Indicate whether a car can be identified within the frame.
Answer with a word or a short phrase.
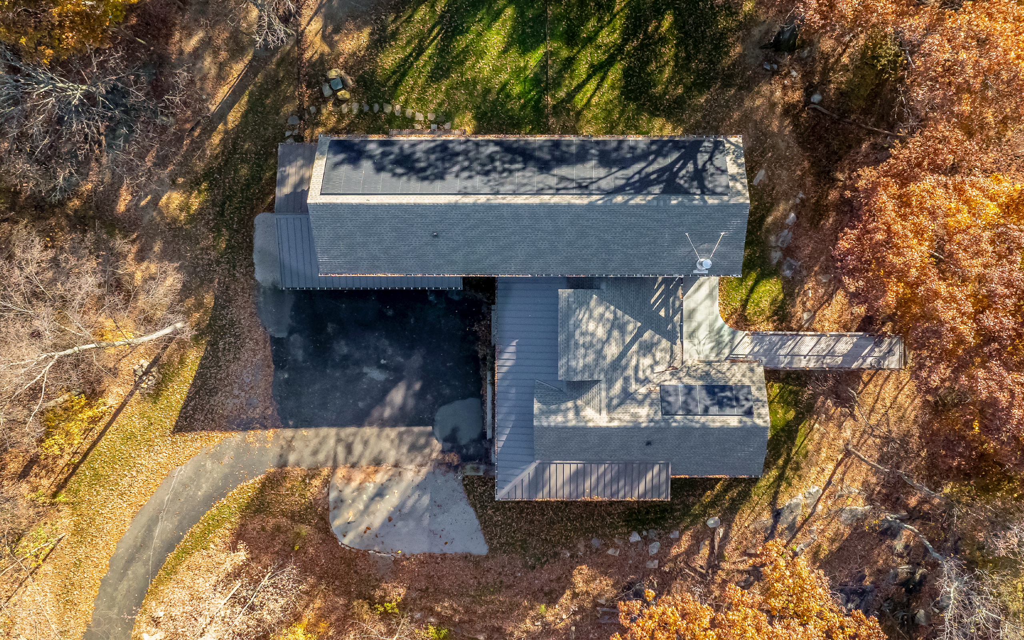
No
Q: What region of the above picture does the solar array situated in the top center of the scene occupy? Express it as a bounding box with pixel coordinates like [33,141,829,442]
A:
[321,139,731,195]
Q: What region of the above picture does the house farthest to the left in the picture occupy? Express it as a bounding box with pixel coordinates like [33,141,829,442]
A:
[274,129,771,502]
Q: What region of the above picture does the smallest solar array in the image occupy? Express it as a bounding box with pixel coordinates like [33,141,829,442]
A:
[660,384,754,416]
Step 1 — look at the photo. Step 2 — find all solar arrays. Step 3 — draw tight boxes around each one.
[660,384,754,416]
[321,139,731,195]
